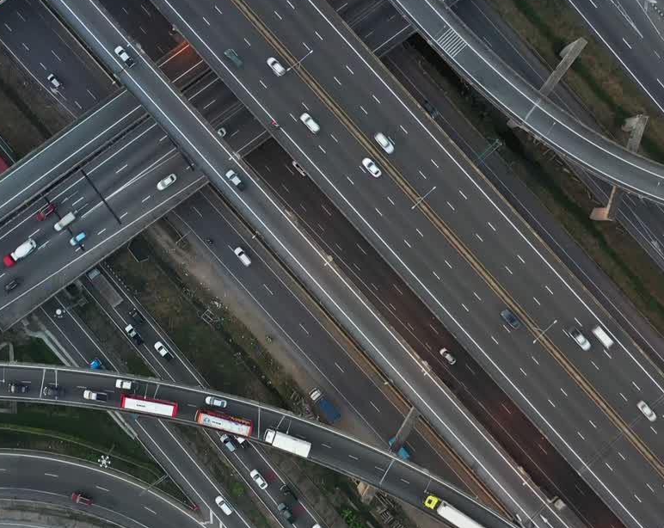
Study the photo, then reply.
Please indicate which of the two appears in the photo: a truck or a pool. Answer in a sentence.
The one in the frame is a truck.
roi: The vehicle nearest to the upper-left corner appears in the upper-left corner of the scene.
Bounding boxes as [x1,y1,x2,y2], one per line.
[46,70,67,92]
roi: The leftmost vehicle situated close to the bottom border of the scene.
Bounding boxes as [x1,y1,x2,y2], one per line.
[70,491,95,506]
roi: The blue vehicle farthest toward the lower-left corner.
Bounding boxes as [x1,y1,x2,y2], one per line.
[85,354,104,369]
